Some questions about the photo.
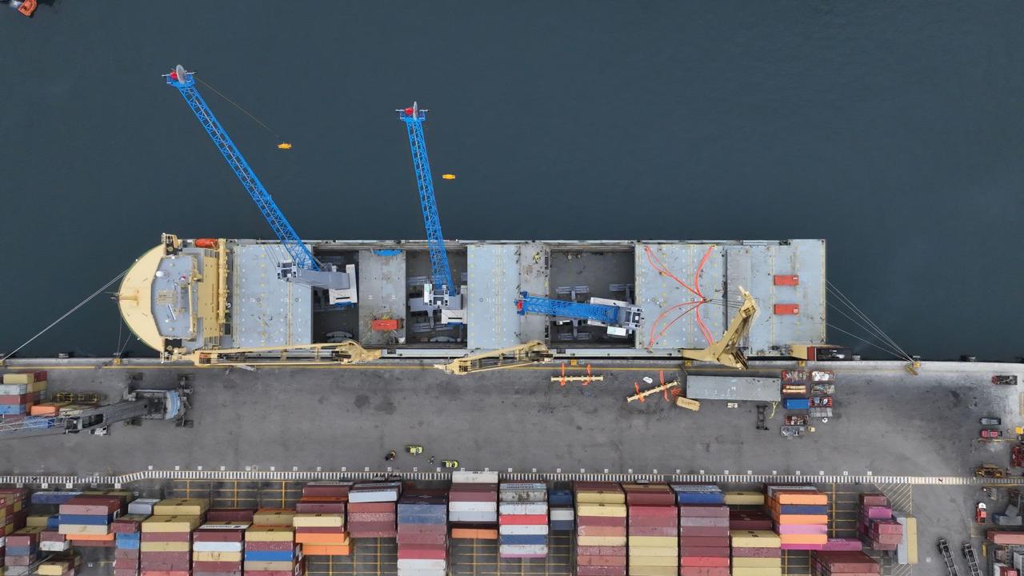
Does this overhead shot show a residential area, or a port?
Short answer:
port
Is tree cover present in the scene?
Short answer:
No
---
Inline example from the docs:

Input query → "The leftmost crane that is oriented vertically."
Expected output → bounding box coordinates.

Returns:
[395,100,465,332]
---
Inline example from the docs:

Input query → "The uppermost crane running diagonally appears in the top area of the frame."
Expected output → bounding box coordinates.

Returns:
[160,63,362,314]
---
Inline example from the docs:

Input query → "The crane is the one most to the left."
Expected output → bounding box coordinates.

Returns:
[0,373,194,446]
